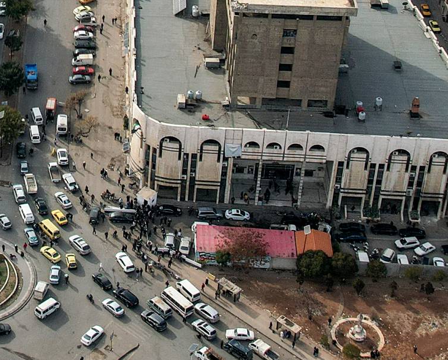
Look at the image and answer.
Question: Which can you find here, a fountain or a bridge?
fountain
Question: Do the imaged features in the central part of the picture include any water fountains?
No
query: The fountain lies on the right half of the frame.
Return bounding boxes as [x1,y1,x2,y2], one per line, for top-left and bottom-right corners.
[329,314,386,352]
